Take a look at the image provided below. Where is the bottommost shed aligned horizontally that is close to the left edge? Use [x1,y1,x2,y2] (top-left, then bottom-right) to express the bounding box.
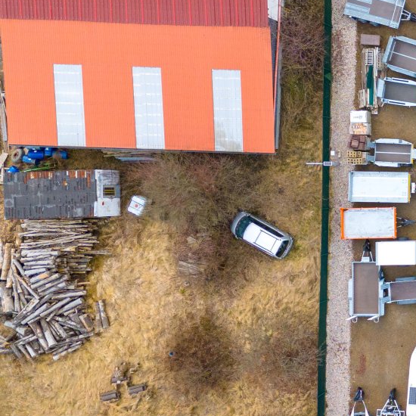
[4,169,121,220]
